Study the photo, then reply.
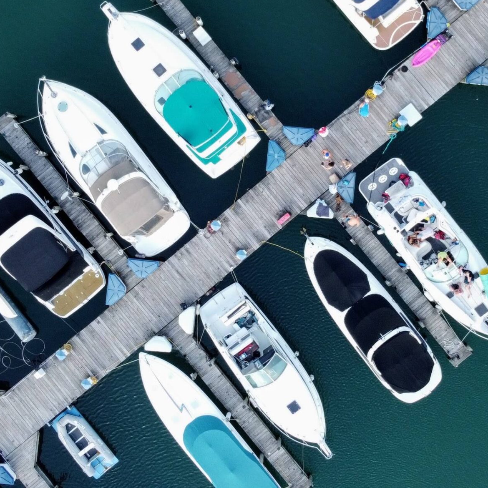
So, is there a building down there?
No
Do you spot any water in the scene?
Yes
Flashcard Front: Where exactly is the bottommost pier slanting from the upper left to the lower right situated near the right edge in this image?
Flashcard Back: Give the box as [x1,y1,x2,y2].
[319,192,472,368]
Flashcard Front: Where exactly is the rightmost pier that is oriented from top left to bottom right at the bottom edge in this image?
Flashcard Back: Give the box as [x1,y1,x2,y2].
[162,317,320,488]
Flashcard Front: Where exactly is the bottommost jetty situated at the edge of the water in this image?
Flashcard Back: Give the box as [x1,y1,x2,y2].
[6,431,56,488]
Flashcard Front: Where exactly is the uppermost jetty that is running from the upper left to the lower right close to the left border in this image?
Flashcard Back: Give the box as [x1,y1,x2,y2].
[0,113,143,291]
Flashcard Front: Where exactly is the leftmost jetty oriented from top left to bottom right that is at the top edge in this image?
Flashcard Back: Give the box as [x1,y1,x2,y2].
[153,0,300,161]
